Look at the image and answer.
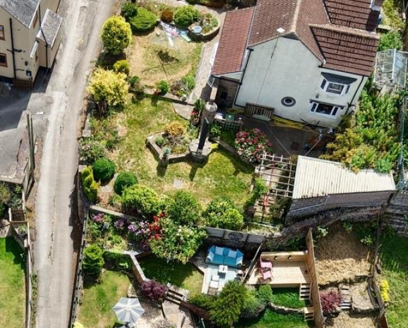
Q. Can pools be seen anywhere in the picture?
No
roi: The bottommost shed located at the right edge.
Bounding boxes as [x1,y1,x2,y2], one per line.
[284,156,394,218]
